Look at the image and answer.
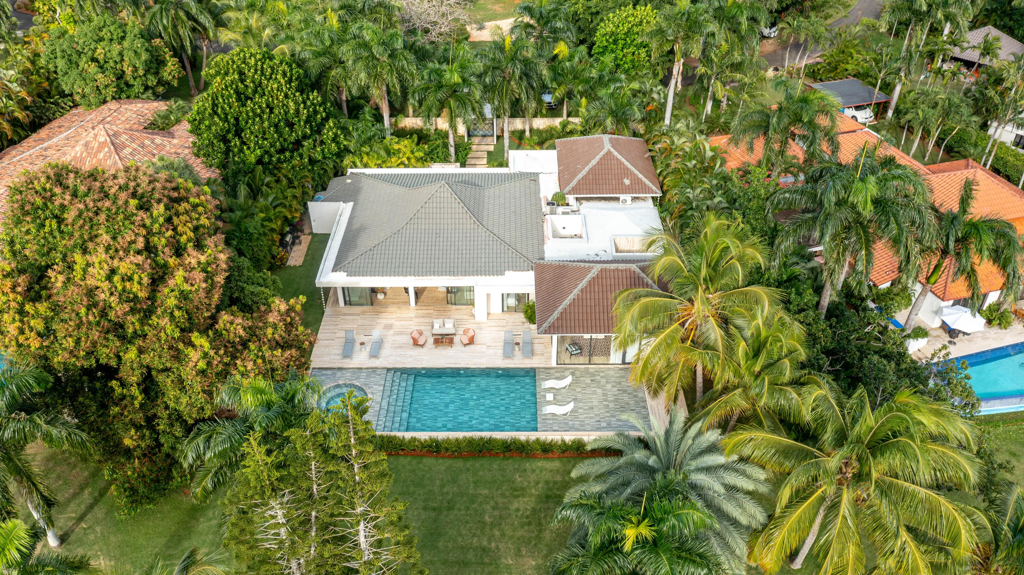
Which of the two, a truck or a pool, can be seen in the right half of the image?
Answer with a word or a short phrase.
pool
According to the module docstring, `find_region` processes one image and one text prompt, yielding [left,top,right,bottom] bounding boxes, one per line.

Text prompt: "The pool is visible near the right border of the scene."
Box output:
[924,342,1024,431]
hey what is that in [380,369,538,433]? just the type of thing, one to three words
swimming pool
